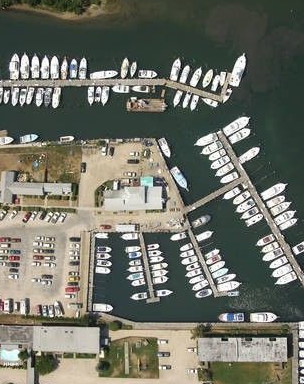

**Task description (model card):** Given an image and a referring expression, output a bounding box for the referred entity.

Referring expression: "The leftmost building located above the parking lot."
[0,172,72,204]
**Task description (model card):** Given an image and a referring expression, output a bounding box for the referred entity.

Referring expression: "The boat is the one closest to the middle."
[172,166,189,192]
